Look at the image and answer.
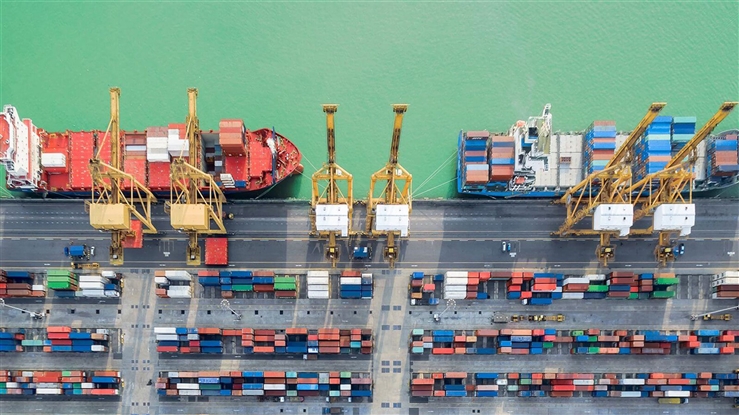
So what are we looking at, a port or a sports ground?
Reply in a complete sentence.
It's a port.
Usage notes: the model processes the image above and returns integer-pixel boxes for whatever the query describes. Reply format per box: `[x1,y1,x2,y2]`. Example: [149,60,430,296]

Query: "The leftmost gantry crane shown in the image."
[89,87,158,267]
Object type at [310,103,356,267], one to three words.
container crane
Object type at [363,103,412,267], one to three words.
container crane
